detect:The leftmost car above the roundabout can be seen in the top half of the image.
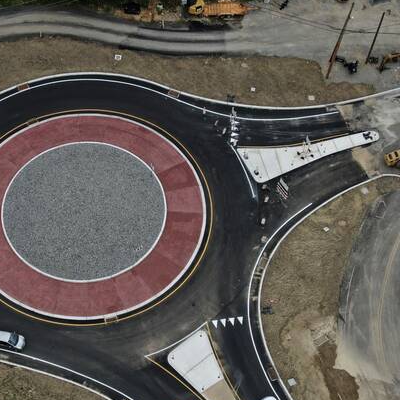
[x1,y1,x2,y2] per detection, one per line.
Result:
[121,2,144,19]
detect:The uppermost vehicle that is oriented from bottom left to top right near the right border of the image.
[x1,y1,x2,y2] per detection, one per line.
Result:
[376,50,400,71]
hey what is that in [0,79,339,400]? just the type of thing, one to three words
roundabout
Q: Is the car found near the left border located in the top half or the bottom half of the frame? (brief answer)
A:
bottom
